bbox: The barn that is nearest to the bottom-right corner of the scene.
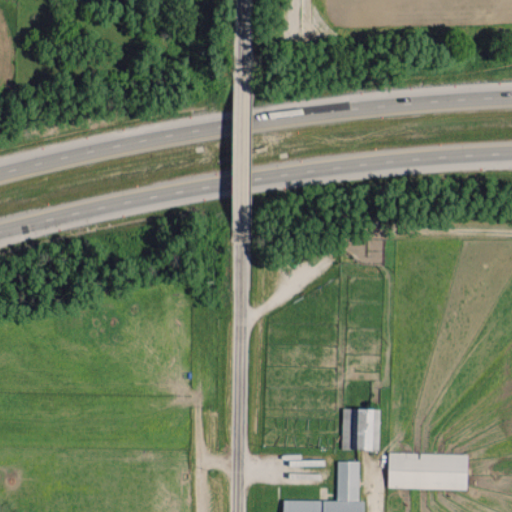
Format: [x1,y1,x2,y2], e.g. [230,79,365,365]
[388,454,469,492]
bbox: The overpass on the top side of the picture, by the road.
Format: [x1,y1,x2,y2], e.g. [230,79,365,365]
[232,72,253,240]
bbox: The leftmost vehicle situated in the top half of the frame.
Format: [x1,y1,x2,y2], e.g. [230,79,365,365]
[256,109,305,121]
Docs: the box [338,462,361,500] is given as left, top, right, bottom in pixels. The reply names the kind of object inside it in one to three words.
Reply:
barn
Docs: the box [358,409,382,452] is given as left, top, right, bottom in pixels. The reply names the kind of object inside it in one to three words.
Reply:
barn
